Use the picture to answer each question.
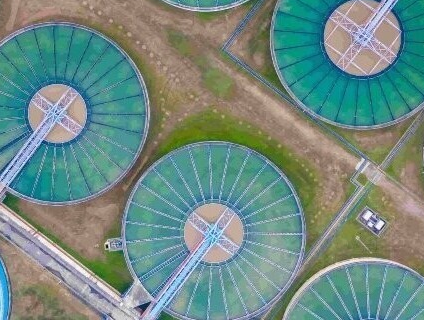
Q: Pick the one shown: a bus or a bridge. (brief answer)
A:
bridge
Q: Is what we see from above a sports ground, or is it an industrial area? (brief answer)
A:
industrial area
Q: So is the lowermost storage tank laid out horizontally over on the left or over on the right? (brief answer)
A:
right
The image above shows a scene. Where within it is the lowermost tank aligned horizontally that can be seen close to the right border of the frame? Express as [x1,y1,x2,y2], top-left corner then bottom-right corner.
[281,258,424,320]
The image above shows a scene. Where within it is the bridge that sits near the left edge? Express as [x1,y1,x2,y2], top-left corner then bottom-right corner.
[0,111,59,200]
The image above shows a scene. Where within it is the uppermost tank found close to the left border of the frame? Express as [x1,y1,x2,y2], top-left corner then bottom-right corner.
[0,20,150,206]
